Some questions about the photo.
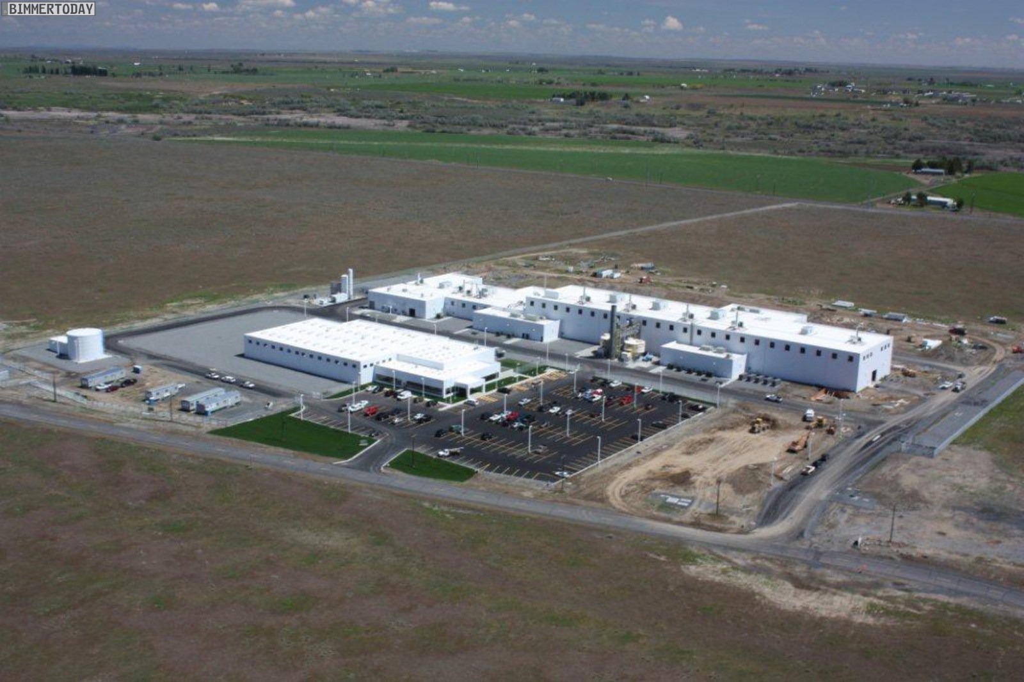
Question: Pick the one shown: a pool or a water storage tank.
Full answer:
Visible in the photo is a water storage tank.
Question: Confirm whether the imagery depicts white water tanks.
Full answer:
Yes, a white water tank appears in the view.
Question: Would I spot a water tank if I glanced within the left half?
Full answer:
Yes, a water tank can be seen within the left half.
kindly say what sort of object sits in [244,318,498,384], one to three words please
building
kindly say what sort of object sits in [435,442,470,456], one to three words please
vehicle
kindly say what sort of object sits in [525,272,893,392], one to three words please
building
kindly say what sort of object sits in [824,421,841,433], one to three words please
vehicle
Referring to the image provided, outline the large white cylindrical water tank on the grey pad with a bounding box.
[64,327,108,361]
